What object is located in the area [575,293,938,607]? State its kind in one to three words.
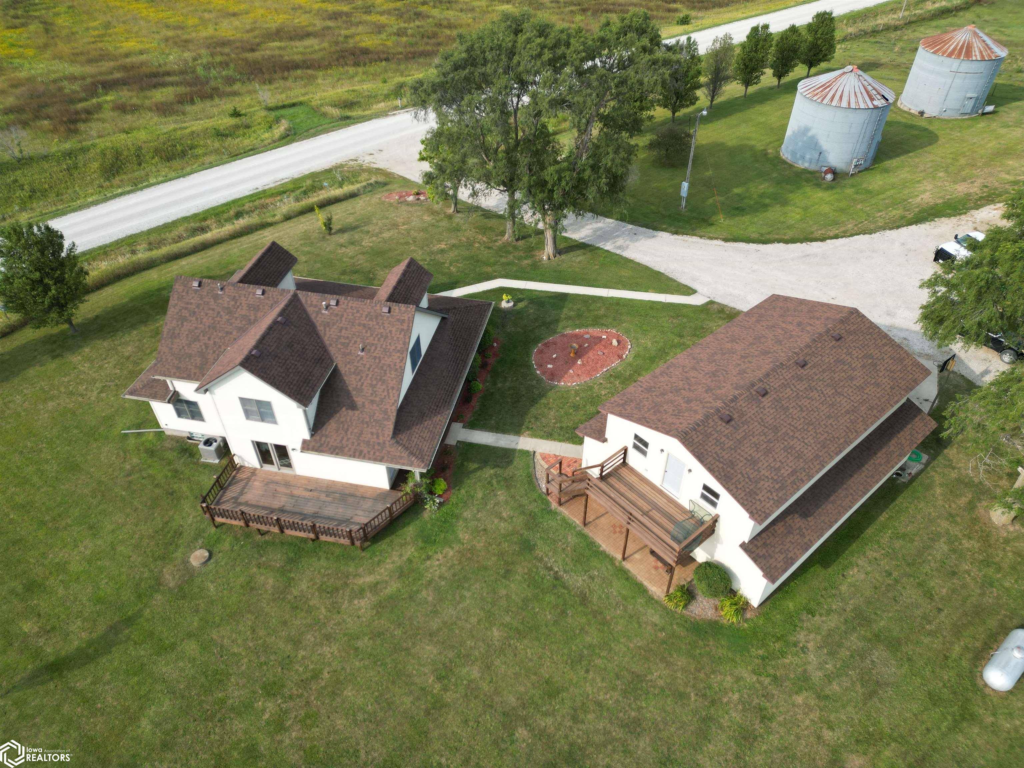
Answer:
building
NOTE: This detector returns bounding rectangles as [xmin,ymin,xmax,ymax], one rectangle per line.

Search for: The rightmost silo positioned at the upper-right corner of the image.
[897,23,1010,120]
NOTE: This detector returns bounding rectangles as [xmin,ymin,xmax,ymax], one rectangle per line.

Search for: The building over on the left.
[119,241,497,501]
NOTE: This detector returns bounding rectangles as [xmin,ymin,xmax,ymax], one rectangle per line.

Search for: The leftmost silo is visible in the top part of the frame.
[779,66,896,174]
